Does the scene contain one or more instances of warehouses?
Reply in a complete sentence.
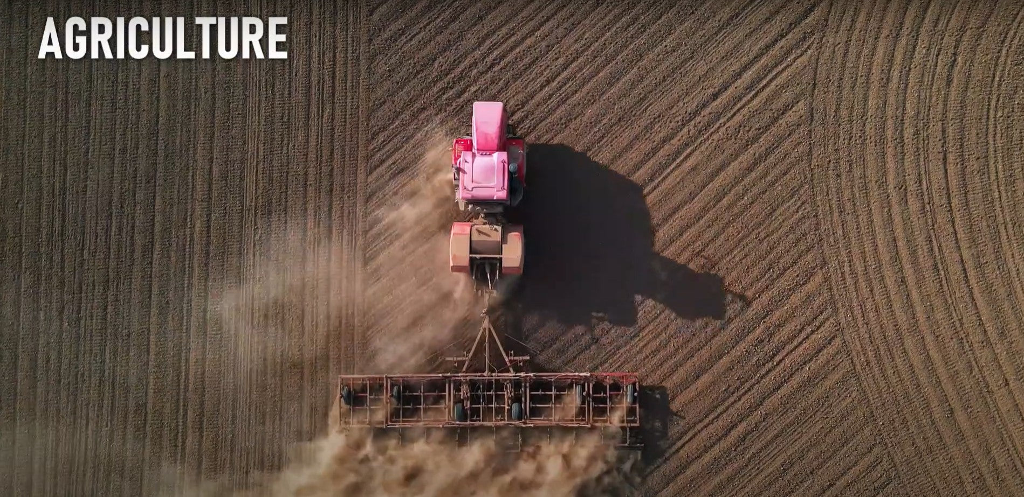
No, there isn't any warehouse down there.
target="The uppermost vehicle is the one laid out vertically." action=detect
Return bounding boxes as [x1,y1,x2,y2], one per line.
[448,102,526,309]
